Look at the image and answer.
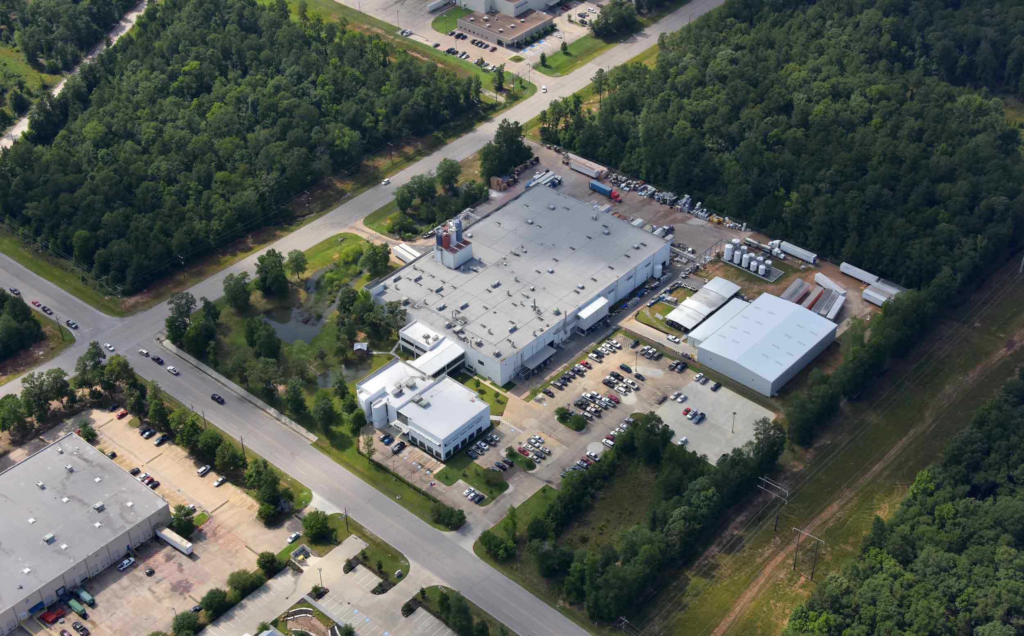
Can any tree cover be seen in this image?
Yes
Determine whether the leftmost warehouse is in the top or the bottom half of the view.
bottom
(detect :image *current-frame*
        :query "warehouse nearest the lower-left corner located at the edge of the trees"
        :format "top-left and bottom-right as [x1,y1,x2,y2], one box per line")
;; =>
[0,432,171,636]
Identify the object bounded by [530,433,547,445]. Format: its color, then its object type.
white vehicle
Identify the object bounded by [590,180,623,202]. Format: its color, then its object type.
blue truck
